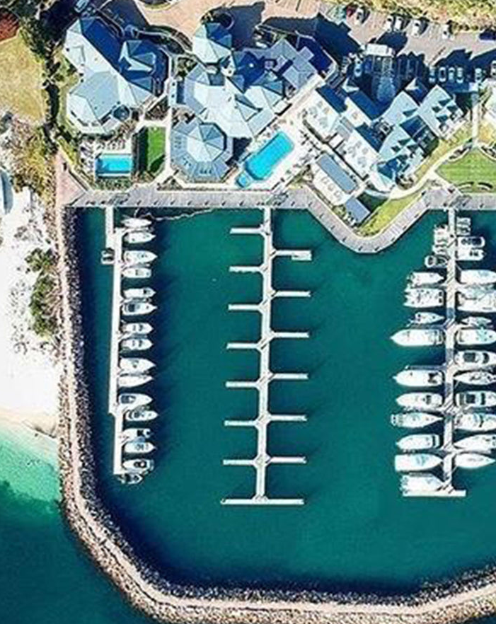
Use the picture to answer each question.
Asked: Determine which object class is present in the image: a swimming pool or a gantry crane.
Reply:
swimming pool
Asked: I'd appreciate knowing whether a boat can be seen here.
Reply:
Yes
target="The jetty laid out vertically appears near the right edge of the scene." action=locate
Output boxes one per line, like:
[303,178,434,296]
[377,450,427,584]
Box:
[402,211,492,496]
